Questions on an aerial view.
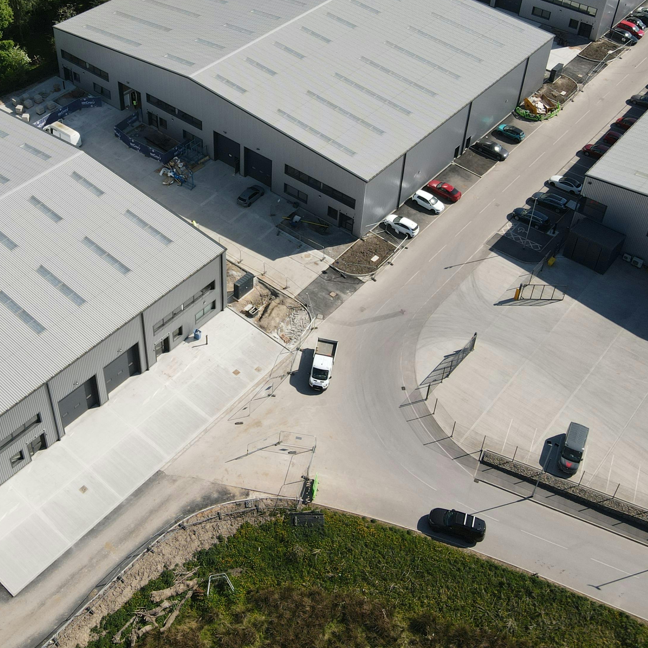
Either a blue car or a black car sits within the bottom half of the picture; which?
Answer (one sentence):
Looking within the bottom half of the picture, you will find a black car.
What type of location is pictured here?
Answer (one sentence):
What you see here is an industrial area.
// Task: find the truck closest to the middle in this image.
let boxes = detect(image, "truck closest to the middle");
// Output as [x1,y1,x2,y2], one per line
[307,336,338,392]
